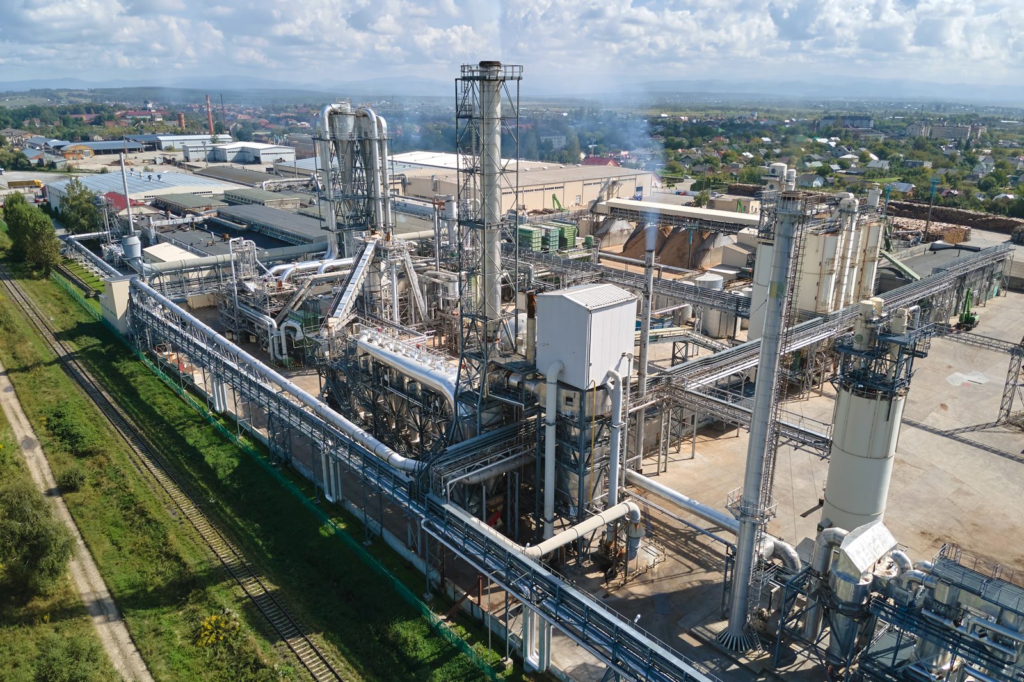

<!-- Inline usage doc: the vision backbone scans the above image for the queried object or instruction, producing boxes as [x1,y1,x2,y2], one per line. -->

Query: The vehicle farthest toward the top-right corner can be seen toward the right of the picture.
[942,280,984,331]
